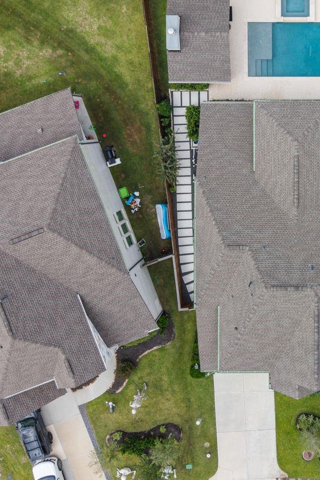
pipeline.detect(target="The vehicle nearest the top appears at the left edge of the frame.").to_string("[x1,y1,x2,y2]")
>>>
[12,408,56,465]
